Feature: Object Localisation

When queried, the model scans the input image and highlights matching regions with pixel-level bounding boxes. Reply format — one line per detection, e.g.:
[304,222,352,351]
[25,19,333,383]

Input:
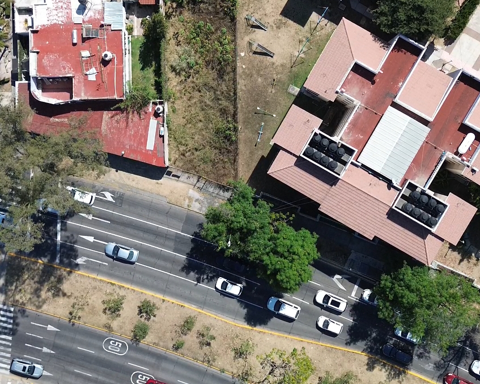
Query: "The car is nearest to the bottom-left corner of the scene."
[10,357,45,379]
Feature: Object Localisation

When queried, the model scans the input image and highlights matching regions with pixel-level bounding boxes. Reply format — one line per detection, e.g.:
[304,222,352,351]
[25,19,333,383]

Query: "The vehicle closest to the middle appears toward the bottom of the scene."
[213,276,244,297]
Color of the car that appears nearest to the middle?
white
